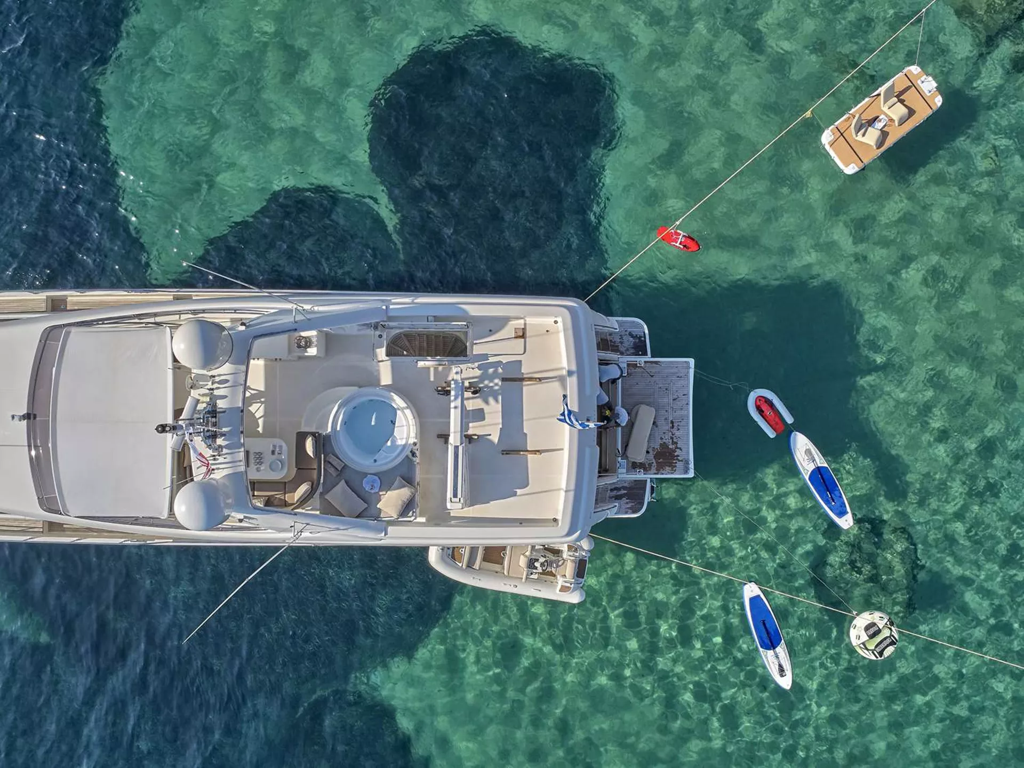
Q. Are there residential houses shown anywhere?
No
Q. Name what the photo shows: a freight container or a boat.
boat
